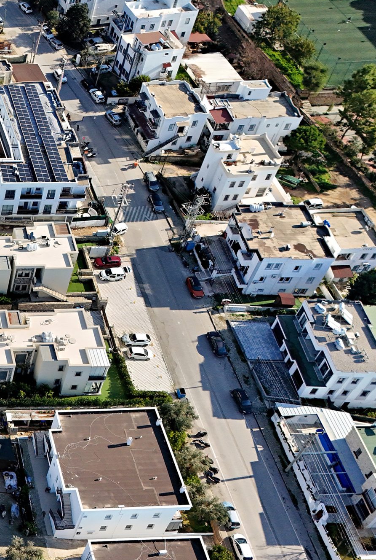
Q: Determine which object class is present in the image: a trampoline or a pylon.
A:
pylon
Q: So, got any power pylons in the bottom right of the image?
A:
No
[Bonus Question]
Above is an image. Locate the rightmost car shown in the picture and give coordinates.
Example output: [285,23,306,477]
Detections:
[297,195,329,210]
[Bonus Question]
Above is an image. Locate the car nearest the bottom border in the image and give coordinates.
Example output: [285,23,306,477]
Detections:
[226,532,255,560]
